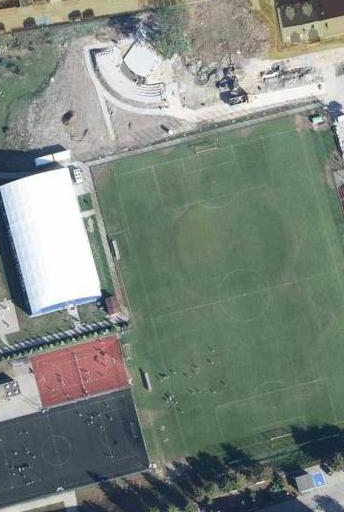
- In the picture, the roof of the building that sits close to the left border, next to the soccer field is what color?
white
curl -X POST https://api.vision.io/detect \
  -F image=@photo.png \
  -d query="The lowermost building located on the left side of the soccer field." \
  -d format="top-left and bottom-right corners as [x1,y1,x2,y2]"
[0,381,21,401]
